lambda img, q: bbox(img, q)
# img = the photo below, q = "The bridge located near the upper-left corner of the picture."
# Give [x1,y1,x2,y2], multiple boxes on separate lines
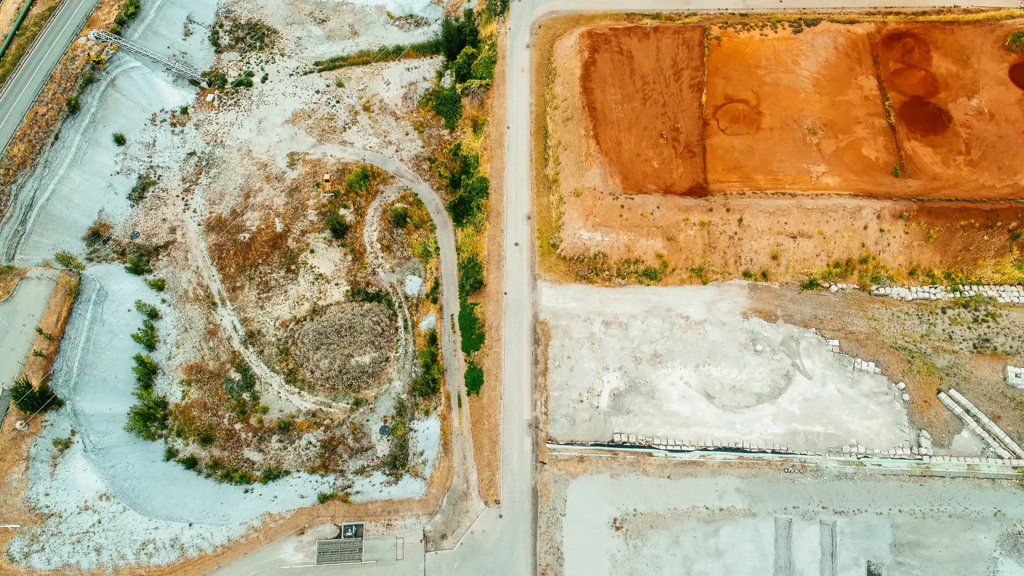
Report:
[95,31,203,84]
